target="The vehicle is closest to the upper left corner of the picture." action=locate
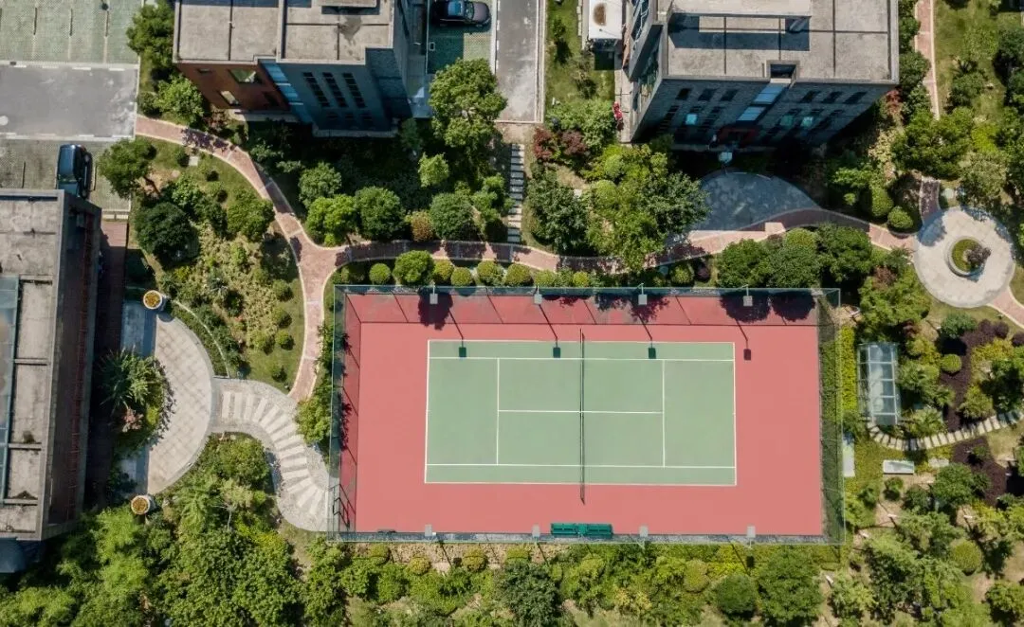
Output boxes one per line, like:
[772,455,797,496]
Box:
[60,142,95,201]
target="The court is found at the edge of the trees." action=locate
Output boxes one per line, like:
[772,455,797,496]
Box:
[339,293,822,536]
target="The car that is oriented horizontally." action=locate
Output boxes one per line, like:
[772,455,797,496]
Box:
[432,0,490,27]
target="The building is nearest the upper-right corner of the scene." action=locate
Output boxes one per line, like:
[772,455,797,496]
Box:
[626,0,897,156]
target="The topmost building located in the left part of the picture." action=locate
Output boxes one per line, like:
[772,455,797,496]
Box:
[173,0,415,140]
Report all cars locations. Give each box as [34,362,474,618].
[432,0,490,27]
[60,142,95,201]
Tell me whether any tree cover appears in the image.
Yes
